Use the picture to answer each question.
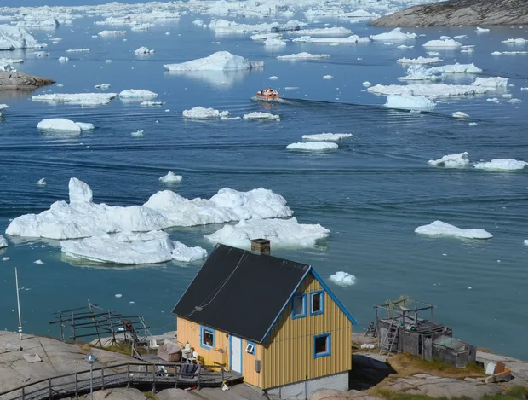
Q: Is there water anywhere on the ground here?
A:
Yes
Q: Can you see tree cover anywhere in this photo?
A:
No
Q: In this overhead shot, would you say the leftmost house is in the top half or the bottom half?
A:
bottom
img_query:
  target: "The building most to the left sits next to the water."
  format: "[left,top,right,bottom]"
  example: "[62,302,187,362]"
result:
[172,238,357,395]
